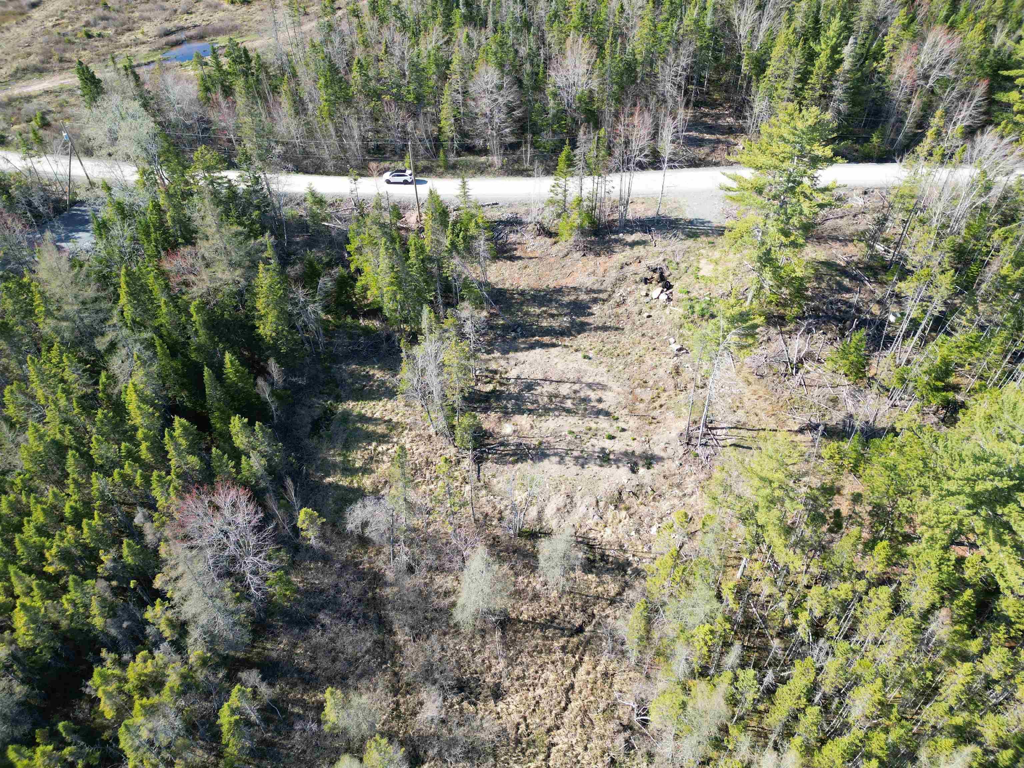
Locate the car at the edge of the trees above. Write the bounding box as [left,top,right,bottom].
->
[383,167,414,182]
